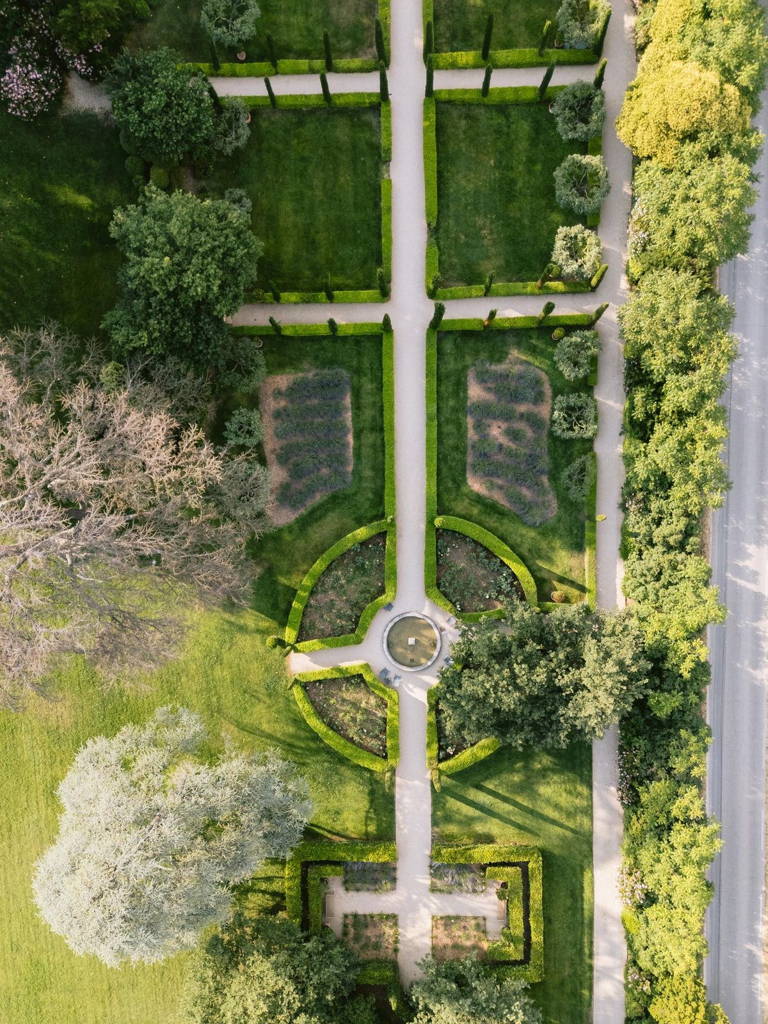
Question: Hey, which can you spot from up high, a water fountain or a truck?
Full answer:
I can see a water fountain in this picture.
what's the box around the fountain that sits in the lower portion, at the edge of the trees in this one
[382,612,442,673]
